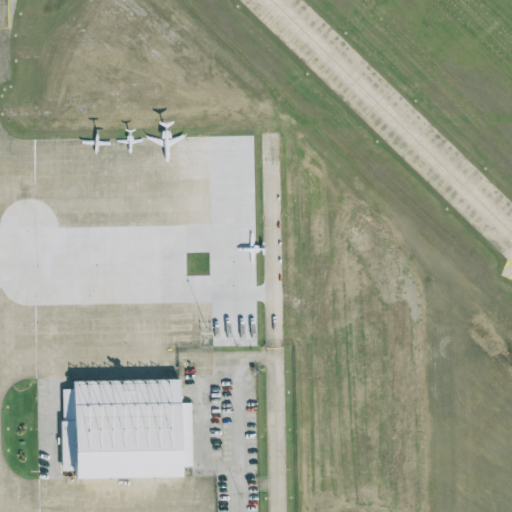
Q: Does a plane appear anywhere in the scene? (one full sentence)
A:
Yes, a plane is visible in the scene.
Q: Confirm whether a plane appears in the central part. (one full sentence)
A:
Yes, a plane is visible in the central part.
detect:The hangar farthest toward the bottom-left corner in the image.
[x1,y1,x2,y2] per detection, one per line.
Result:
[60,380,194,478]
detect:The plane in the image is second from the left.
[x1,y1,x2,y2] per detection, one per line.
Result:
[117,128,142,153]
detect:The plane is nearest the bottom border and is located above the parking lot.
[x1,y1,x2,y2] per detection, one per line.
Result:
[238,233,266,266]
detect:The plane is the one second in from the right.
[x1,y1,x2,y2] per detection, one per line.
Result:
[146,121,187,162]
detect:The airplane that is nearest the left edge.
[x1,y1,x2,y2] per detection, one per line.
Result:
[82,128,112,155]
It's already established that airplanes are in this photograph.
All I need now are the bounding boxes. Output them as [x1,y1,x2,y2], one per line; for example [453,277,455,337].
[146,121,187,162]
[238,233,266,266]
[117,128,142,153]
[82,128,112,155]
